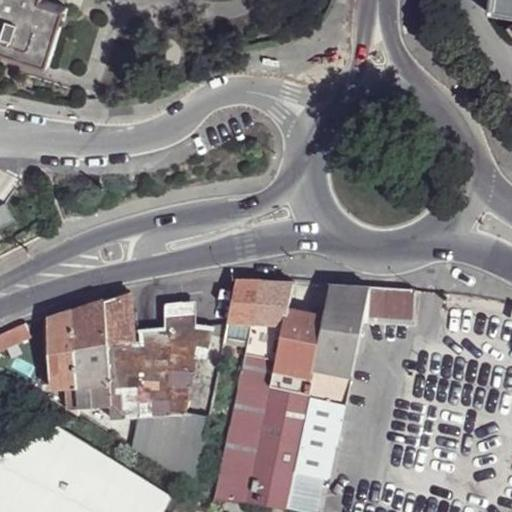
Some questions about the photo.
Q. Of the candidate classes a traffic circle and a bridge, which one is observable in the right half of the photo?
traffic circle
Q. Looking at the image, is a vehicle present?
Yes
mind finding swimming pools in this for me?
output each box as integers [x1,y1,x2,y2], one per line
[12,358,34,378]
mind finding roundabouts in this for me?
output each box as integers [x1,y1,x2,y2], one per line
[305,76,466,253]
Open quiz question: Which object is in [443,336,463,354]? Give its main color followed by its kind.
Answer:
gray car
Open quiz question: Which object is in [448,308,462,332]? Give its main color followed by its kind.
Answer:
white vehicle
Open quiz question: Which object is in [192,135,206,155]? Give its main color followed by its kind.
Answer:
white car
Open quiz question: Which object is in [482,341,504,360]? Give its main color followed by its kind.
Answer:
white car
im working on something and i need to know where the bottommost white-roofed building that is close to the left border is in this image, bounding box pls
[0,425,170,512]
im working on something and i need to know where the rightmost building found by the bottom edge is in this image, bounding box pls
[286,396,346,512]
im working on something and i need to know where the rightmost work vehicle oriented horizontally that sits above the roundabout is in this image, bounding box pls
[306,50,338,62]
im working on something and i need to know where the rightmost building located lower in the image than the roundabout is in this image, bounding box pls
[369,288,414,320]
